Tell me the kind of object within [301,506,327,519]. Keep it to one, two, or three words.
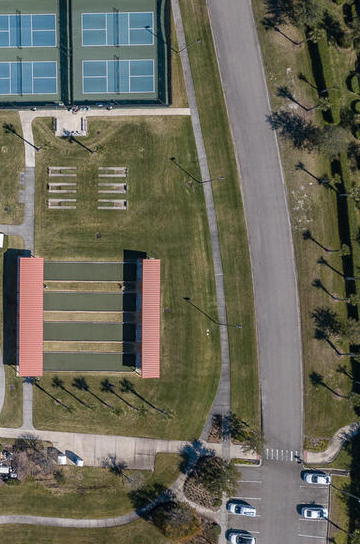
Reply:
vehicle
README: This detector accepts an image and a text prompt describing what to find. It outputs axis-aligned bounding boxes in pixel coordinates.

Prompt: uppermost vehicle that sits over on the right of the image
[303,472,329,485]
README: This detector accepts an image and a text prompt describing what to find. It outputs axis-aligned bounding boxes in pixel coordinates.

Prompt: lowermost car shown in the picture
[228,532,256,544]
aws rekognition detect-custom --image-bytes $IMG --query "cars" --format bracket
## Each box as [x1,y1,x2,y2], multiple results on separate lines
[228,532,256,544]
[303,472,329,485]
[301,506,327,519]
[228,502,256,516]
